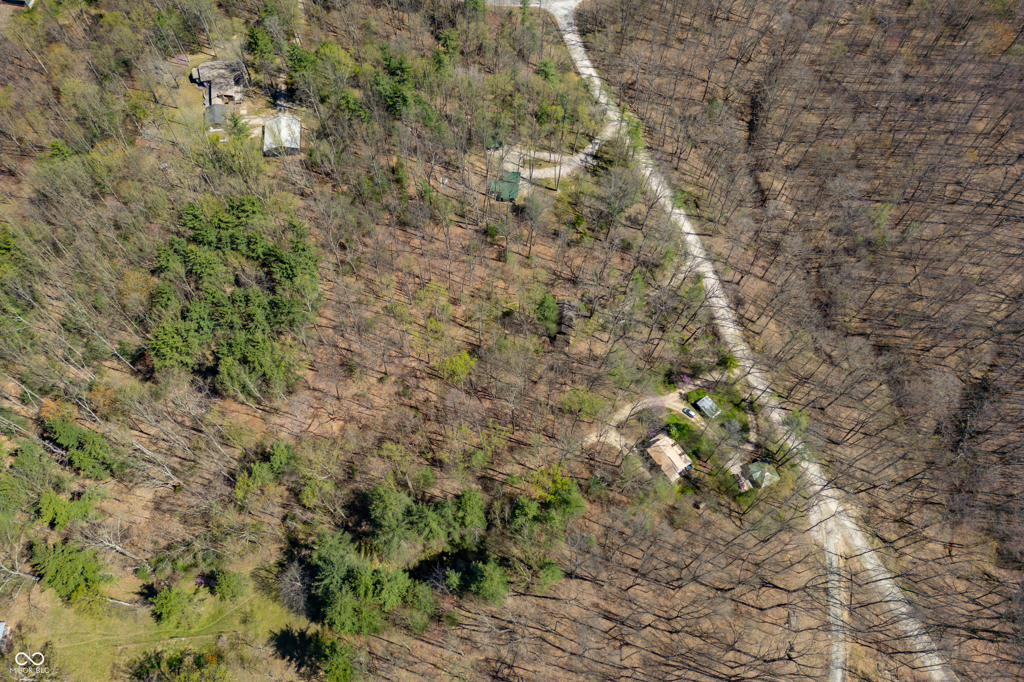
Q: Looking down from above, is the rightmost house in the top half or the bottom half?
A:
bottom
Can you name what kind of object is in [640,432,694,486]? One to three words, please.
house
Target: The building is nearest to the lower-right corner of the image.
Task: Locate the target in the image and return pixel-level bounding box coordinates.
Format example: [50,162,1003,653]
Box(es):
[746,454,782,490]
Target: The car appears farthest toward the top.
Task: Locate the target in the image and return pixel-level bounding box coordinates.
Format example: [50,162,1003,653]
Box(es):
[681,406,699,419]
